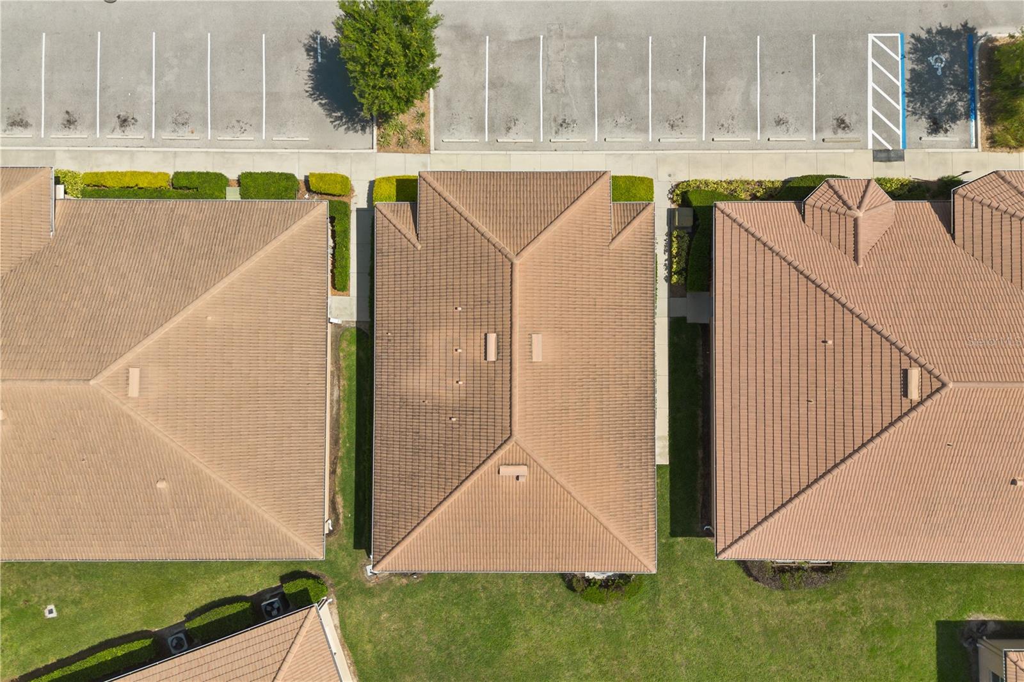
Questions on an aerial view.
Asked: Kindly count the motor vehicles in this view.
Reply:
0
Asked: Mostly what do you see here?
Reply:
buildings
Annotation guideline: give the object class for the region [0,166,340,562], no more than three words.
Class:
building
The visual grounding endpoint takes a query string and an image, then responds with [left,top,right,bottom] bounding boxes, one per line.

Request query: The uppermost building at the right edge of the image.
[700,170,1024,562]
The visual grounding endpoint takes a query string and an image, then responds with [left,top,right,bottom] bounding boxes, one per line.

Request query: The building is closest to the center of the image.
[374,171,656,573]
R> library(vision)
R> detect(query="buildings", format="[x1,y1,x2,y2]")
[700,170,1024,562]
[374,171,656,573]
[0,166,340,562]
[109,594,363,682]
[973,632,1024,682]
